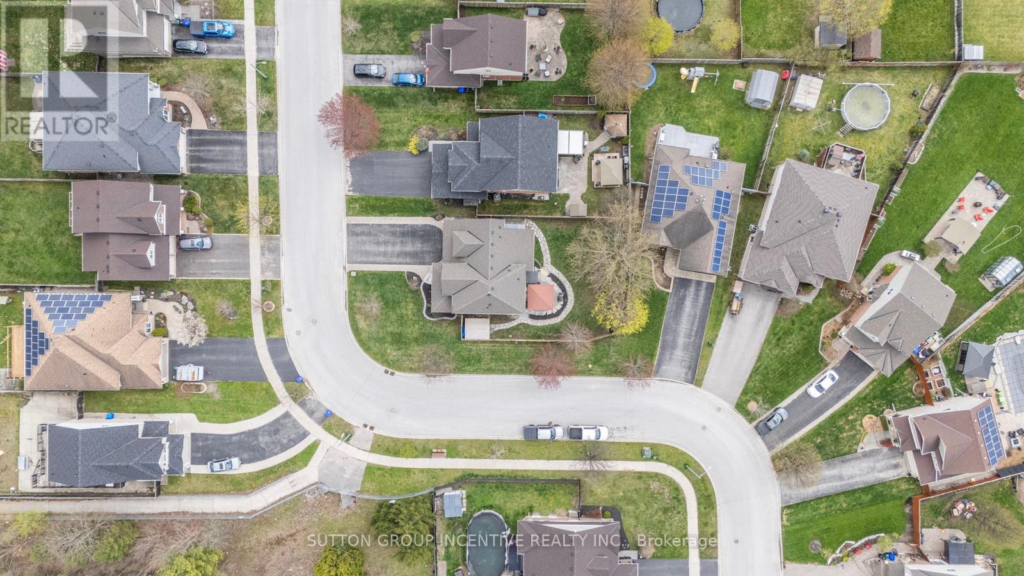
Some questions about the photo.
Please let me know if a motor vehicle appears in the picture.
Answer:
Yes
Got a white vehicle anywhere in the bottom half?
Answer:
Yes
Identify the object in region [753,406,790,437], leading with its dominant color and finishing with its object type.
gray truck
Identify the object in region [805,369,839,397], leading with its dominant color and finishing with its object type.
white car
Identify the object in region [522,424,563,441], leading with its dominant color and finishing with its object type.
white vehicle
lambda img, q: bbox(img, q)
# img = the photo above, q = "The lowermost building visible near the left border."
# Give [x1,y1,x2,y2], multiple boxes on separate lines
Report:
[47,420,189,488]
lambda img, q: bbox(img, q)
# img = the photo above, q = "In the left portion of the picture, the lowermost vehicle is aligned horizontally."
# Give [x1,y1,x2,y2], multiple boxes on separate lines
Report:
[207,456,242,473]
